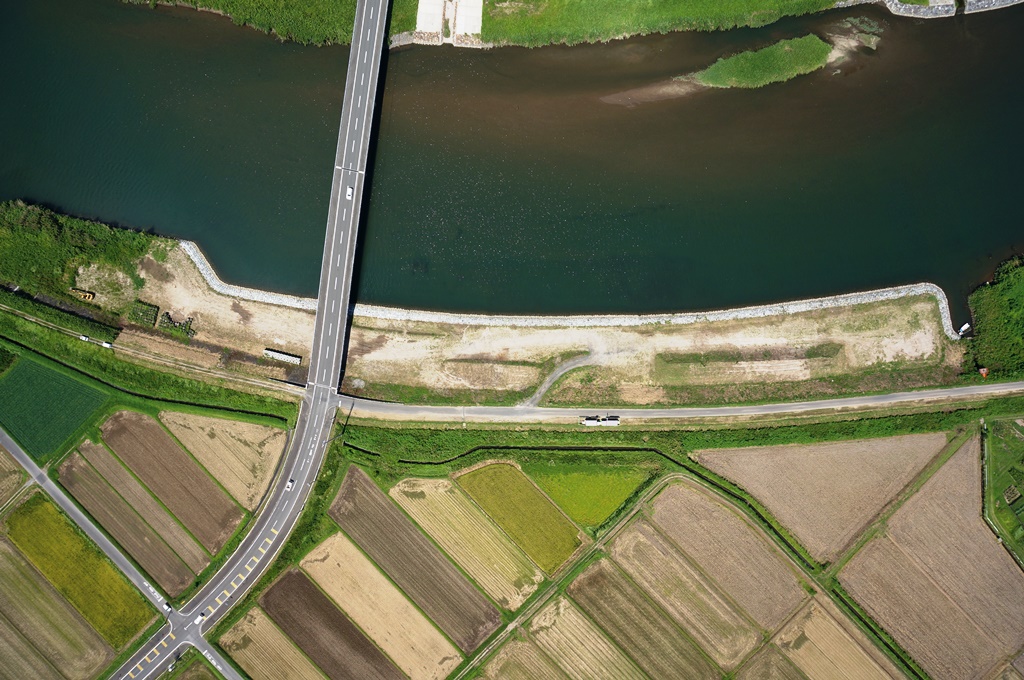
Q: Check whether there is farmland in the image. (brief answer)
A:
Yes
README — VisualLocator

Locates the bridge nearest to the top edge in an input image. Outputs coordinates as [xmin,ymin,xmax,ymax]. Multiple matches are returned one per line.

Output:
[305,0,390,394]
